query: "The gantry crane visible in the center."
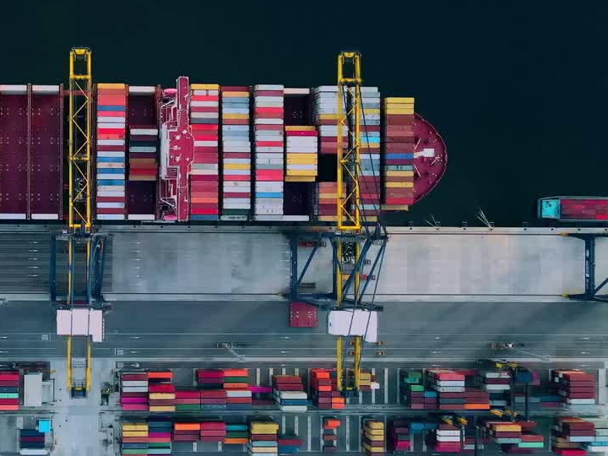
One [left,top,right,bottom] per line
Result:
[271,51,398,391]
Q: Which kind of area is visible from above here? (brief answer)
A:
port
